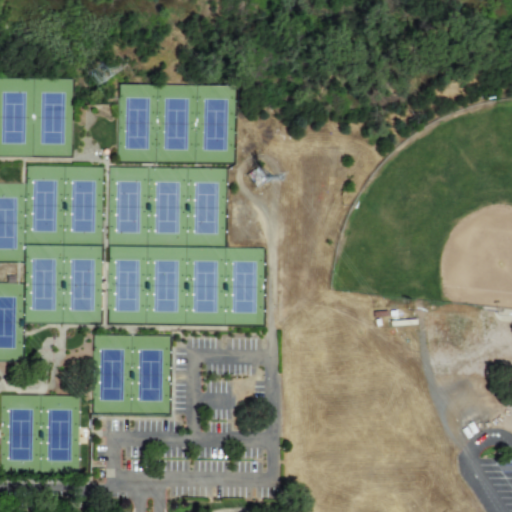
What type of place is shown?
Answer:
sports ground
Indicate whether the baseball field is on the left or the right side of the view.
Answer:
right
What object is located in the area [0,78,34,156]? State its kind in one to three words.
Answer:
tennis court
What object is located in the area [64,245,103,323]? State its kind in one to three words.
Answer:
tennis court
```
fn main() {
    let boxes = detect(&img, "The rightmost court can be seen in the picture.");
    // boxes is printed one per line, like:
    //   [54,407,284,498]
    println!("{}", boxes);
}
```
[226,247,266,325]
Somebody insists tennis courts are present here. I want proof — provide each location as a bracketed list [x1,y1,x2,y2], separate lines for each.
[0,78,34,156]
[26,166,66,244]
[148,246,187,324]
[26,244,64,323]
[34,79,74,156]
[110,168,148,246]
[226,247,266,325]
[148,168,188,246]
[120,84,158,162]
[93,336,132,414]
[156,85,198,162]
[186,246,226,324]
[41,395,81,473]
[64,245,103,323]
[132,336,171,414]
[187,168,226,246]
[0,395,41,472]
[109,246,148,324]
[64,166,104,245]
[0,183,26,262]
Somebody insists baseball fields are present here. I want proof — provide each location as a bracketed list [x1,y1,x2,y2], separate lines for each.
[332,100,512,308]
